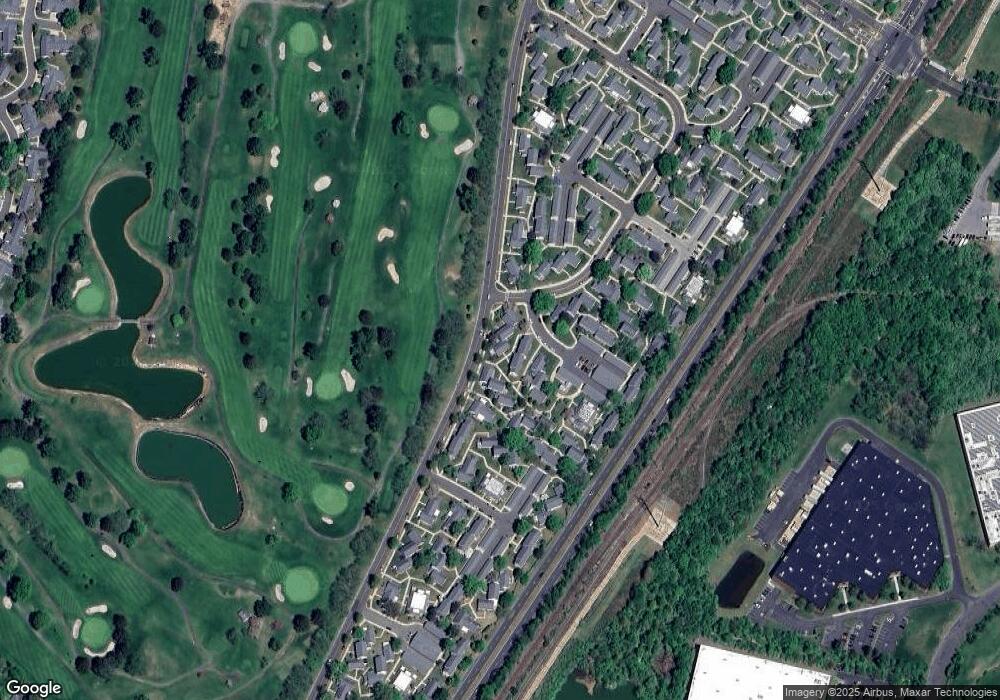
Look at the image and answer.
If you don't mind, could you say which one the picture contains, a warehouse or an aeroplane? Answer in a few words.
warehouse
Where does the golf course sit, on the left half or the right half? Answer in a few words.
left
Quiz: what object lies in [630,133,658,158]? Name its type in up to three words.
house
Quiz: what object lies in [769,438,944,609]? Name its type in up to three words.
warehouse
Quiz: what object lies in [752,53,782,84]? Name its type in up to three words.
building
